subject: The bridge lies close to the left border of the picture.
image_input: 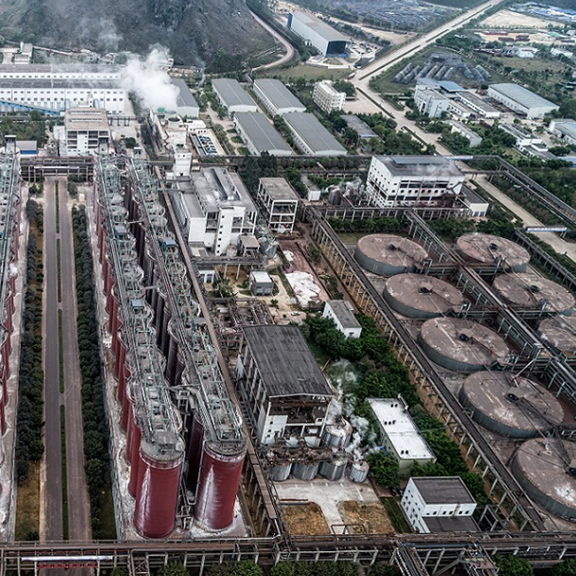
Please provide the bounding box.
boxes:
[22,150,94,172]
